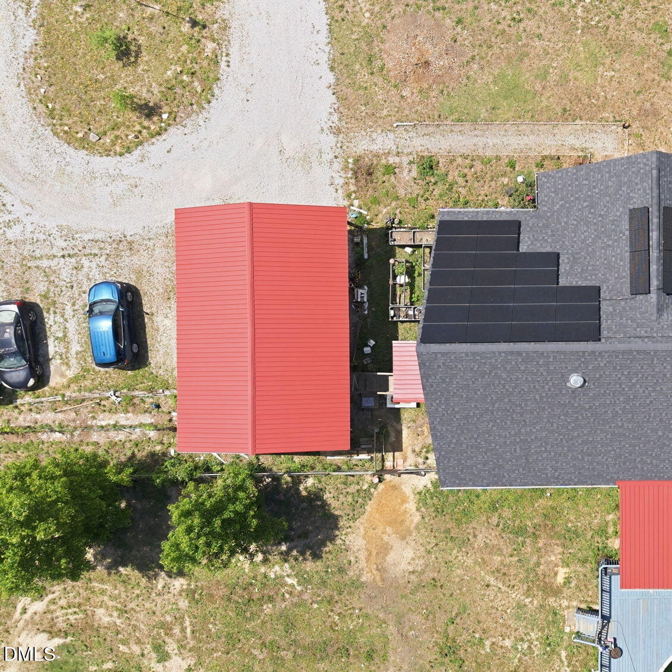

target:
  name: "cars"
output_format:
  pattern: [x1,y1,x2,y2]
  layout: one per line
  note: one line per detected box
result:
[83,277,143,372]
[0,301,46,391]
